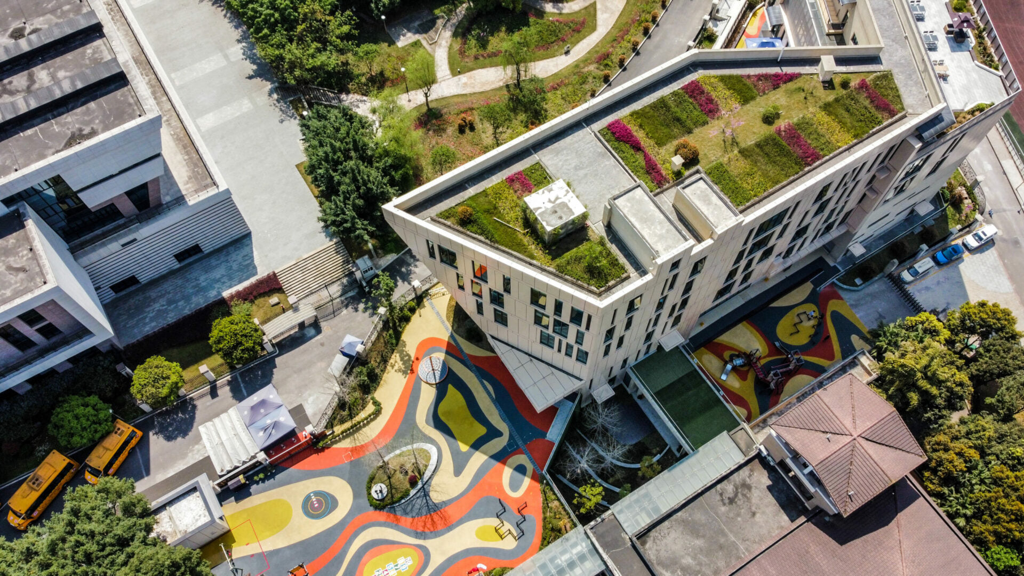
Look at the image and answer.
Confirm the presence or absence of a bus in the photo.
Yes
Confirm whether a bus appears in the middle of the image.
No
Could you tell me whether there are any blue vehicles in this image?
Yes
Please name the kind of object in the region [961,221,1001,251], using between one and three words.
car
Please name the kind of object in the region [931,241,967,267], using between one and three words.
car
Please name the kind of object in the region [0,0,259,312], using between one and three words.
building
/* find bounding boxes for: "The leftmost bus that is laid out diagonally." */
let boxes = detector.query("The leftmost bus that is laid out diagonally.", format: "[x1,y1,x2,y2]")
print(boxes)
[4,452,84,530]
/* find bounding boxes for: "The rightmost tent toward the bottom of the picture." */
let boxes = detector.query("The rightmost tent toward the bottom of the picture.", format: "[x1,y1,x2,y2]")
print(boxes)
[339,335,368,367]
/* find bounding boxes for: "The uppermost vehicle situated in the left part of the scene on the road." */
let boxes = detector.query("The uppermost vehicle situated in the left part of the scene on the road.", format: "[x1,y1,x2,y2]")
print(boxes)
[80,422,145,486]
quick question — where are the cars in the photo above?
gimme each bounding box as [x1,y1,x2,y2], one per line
[897,253,938,285]
[961,221,1001,251]
[931,241,967,267]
